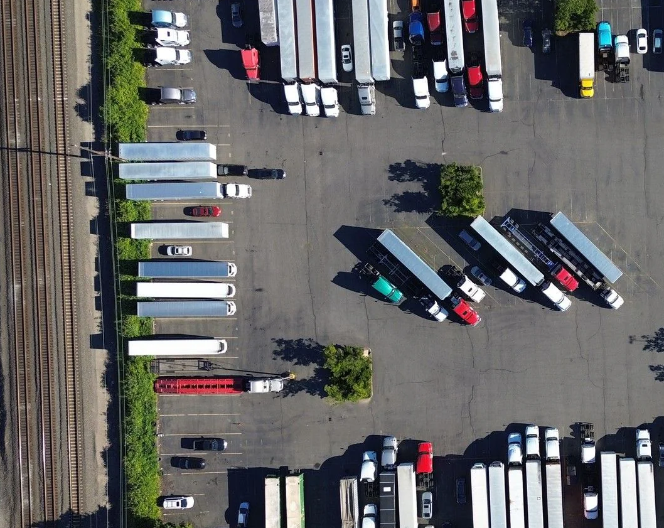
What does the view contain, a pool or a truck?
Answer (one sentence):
Of the two, only a truck appears.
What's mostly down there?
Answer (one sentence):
What you mostly see from above here is paved ground.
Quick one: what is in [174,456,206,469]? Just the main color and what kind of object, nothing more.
black vehicle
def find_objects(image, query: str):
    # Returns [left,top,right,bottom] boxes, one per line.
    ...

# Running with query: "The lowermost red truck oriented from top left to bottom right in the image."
[446,293,482,328]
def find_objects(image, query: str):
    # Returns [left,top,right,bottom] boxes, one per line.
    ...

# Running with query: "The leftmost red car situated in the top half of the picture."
[192,205,221,218]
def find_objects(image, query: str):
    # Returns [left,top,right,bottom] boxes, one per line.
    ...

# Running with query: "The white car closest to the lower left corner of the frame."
[162,495,194,509]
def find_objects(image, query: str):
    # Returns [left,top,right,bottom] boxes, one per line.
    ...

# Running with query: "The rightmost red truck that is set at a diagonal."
[539,254,578,293]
